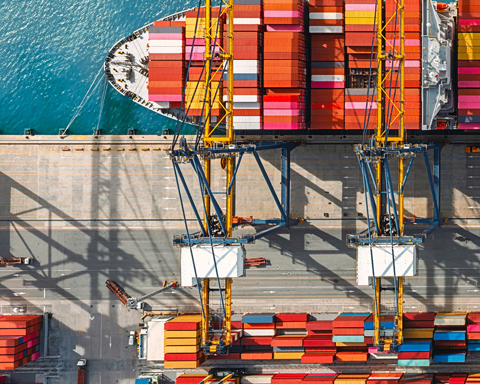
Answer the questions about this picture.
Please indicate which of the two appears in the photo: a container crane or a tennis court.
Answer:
container crane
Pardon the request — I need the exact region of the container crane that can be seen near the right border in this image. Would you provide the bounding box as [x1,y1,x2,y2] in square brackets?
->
[348,0,457,352]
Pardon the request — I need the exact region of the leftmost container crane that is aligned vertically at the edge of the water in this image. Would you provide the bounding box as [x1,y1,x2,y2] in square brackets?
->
[164,0,313,352]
